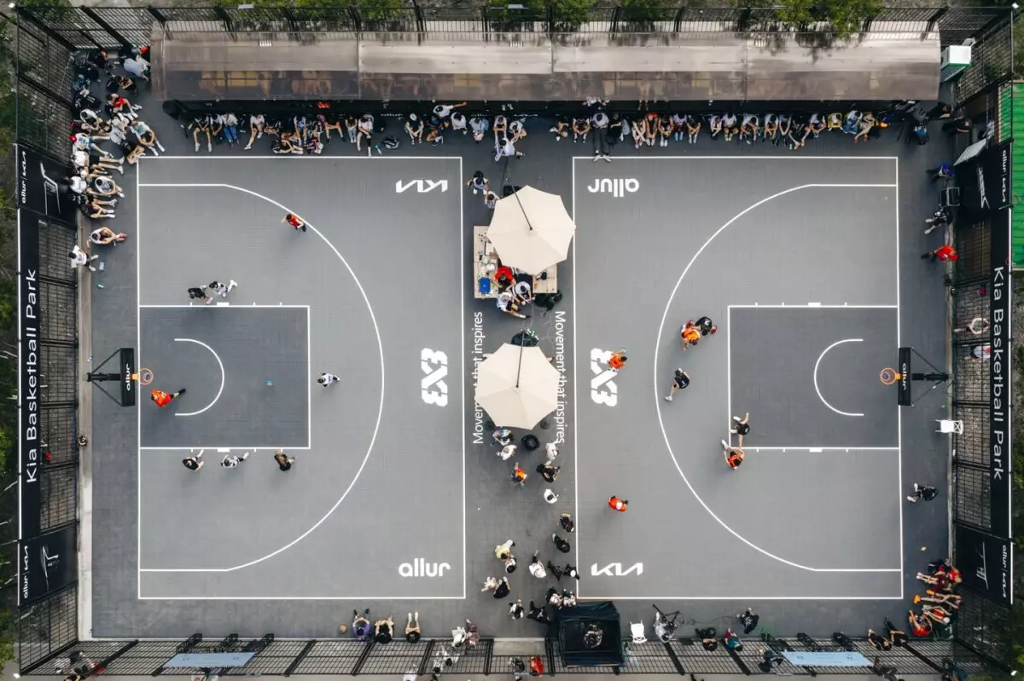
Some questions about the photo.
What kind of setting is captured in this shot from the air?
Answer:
sports ground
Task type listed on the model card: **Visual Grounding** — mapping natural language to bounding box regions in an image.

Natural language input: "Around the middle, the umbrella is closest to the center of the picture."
[473,329,562,430]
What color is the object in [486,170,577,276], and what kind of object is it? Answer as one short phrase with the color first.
white umbrella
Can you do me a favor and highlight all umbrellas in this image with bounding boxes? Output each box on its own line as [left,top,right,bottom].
[473,329,562,430]
[486,170,577,276]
